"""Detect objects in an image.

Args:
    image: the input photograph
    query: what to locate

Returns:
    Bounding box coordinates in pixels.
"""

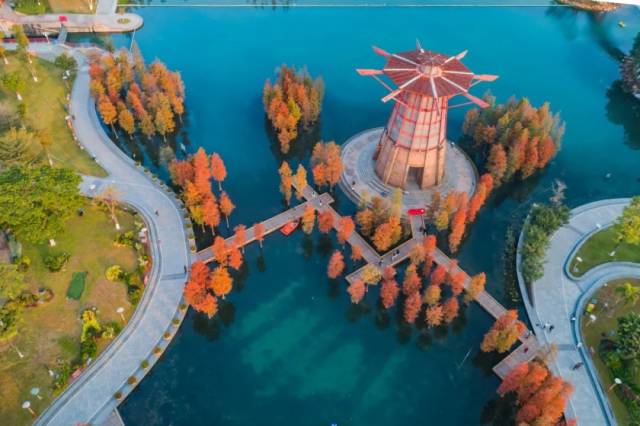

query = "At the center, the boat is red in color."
[279,223,299,235]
